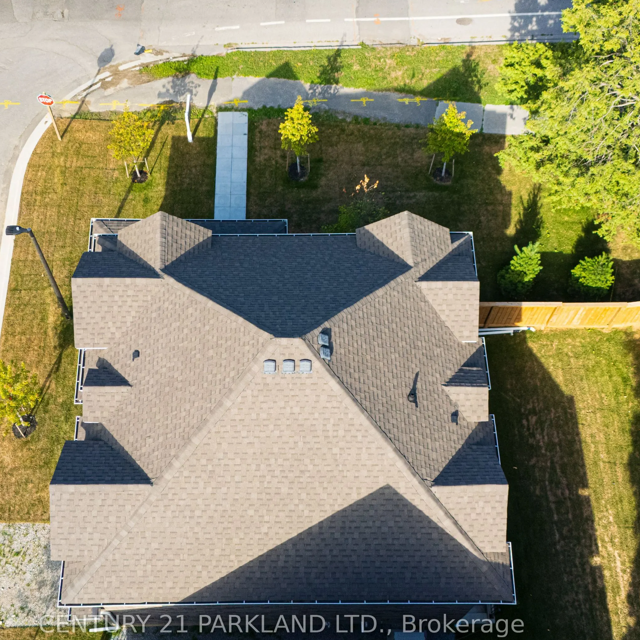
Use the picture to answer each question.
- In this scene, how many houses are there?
1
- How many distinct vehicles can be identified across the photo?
0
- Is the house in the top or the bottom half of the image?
bottom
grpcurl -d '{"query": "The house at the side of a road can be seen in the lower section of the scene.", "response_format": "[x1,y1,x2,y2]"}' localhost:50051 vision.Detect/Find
[46,212,536,633]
